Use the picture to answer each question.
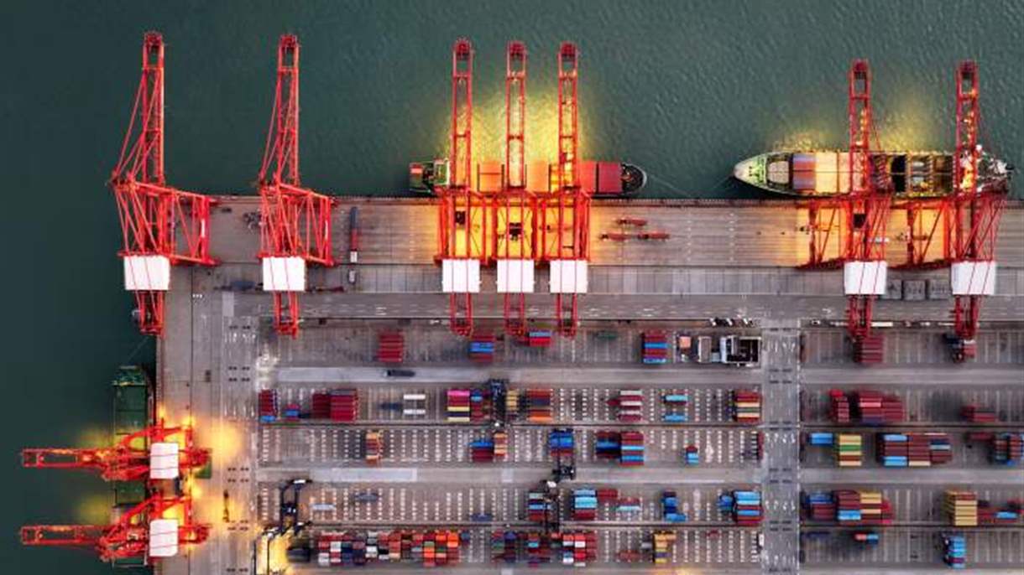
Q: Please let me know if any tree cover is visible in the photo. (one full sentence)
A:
No, there is no tree cover in the image.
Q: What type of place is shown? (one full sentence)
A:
What you see here is a port.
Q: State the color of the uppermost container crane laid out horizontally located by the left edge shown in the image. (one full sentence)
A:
From above, the uppermost container crane laid out horizontally located by the left edge appears red.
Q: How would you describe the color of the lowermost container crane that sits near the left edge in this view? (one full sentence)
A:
The lowermost container crane that sits near the left edge is red.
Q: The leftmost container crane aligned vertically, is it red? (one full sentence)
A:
Yes, the leftmost container crane aligned vertically is indeed red.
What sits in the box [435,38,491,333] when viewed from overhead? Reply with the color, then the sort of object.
red container crane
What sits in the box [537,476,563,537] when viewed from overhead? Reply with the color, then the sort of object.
black container crane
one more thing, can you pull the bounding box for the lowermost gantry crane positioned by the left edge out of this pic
[20,487,209,560]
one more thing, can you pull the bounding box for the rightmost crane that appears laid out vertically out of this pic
[893,61,1022,336]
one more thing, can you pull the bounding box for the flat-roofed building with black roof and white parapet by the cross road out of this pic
[718,337,764,368]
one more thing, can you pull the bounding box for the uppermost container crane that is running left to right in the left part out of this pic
[20,417,209,479]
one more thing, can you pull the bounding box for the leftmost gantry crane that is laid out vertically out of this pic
[107,31,218,332]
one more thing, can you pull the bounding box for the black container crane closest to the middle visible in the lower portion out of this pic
[485,379,511,435]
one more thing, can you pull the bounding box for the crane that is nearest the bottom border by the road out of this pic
[251,524,287,575]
